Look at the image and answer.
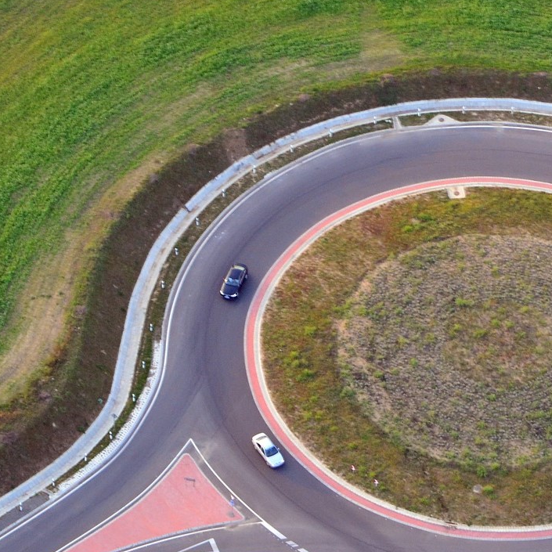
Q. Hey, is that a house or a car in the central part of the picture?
car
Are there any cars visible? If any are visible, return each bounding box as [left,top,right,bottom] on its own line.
[220,264,247,295]
[251,432,285,467]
